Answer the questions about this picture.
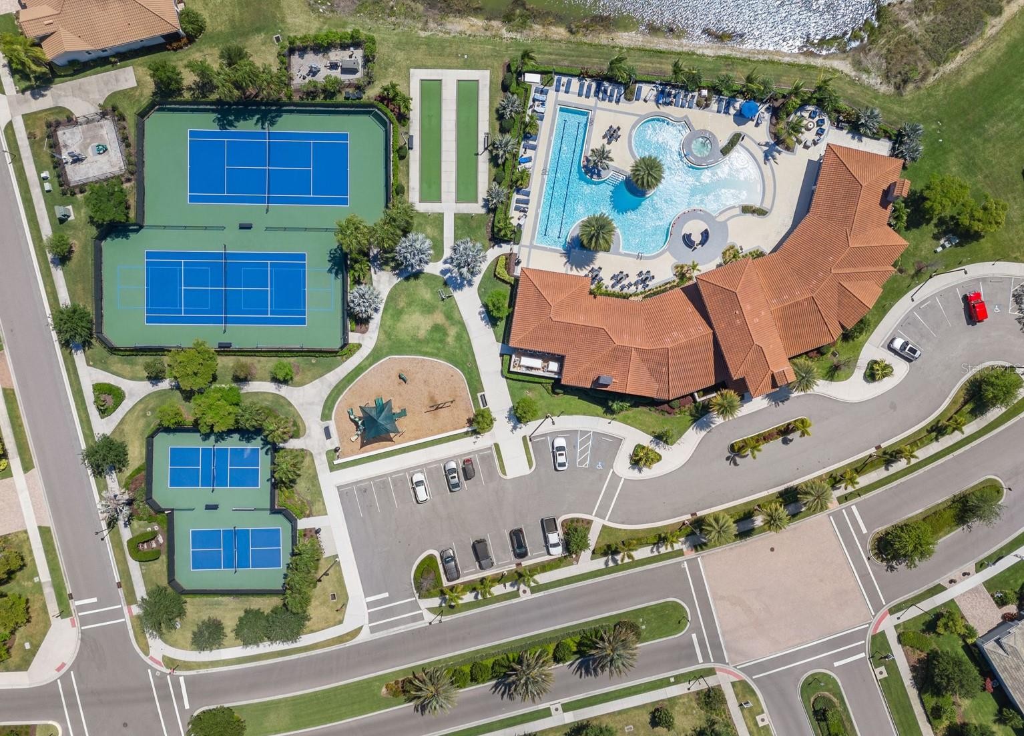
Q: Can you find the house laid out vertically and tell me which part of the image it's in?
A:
bottom right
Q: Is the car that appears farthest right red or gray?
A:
red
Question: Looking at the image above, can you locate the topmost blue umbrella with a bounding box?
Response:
[740,100,759,119]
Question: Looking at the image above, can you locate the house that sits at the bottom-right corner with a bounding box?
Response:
[974,608,1024,723]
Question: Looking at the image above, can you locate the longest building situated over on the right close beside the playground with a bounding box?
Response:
[507,143,910,402]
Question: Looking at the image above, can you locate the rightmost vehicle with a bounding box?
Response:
[964,290,989,324]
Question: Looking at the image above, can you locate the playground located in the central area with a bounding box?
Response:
[331,355,478,465]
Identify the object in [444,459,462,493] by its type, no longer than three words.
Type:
car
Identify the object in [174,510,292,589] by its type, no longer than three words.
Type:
sports court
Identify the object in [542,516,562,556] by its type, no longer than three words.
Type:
vehicle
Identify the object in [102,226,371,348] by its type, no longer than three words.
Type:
tennis court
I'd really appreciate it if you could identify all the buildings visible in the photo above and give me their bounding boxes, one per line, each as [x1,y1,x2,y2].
[974,608,1024,723]
[19,0,185,60]
[507,143,910,402]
